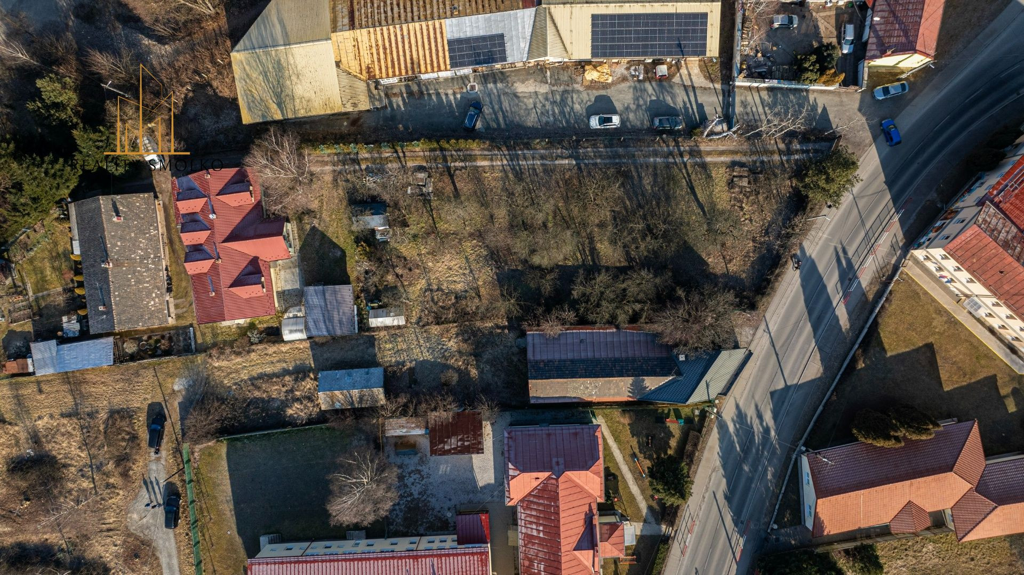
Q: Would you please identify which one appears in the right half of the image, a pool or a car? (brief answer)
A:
car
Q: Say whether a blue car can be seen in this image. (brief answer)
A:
Yes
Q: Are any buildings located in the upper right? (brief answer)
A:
Yes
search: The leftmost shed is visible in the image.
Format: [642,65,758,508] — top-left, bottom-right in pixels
[2,358,34,375]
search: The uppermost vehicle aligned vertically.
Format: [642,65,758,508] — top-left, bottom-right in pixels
[840,22,857,57]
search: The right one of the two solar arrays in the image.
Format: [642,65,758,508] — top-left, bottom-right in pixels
[592,13,708,57]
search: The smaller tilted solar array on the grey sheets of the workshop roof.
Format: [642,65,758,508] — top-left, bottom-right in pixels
[448,33,506,68]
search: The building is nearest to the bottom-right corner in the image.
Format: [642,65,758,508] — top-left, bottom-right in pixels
[800,419,1024,543]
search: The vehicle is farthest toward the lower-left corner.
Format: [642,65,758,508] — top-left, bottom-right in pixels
[163,493,183,528]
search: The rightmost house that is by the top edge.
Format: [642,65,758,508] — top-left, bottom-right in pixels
[856,0,945,65]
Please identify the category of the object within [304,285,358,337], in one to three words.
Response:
building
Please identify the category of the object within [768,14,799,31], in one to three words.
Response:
car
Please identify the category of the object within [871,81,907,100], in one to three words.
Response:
car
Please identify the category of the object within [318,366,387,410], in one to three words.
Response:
shed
